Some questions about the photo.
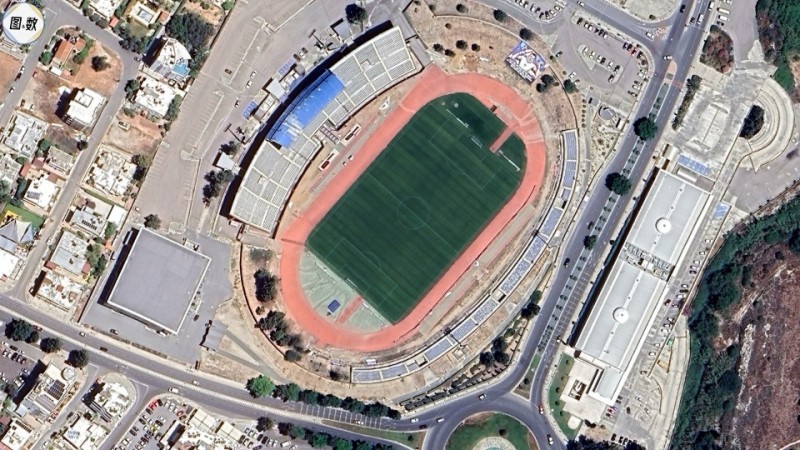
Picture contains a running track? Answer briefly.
Yes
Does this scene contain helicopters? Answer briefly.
No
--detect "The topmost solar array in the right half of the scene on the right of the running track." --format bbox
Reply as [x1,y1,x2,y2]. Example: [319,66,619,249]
[677,155,710,175]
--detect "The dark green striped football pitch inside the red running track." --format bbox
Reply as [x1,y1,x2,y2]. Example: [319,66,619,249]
[309,92,526,323]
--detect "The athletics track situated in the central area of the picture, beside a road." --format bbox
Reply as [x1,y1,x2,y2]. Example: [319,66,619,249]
[277,62,546,351]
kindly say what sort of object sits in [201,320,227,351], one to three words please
shed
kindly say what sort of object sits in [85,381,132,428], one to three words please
building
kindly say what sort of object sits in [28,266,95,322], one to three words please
house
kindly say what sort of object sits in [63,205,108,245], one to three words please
house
